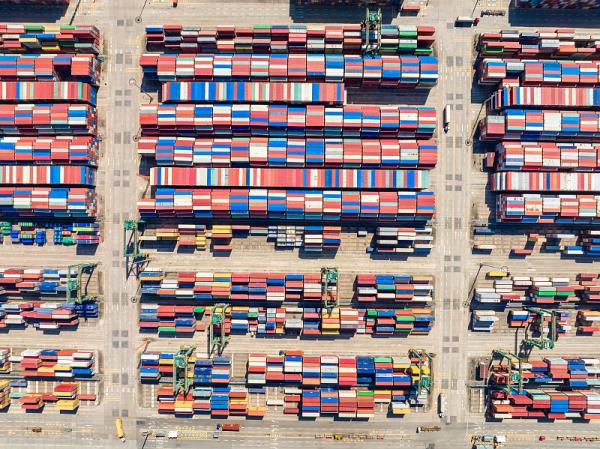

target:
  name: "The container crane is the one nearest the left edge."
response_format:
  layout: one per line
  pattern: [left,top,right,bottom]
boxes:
[65,261,101,304]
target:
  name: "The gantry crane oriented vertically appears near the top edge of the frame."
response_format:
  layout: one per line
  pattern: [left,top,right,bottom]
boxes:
[362,7,382,60]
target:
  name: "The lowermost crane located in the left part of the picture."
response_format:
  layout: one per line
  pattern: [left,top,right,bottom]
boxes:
[172,344,199,394]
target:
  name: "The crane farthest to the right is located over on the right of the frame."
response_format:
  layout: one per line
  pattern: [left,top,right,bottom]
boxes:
[520,303,557,349]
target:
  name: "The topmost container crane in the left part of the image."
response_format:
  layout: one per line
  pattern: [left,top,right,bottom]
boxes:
[122,218,153,259]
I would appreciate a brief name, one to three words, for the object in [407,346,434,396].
container crane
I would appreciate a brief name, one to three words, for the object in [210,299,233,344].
container crane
